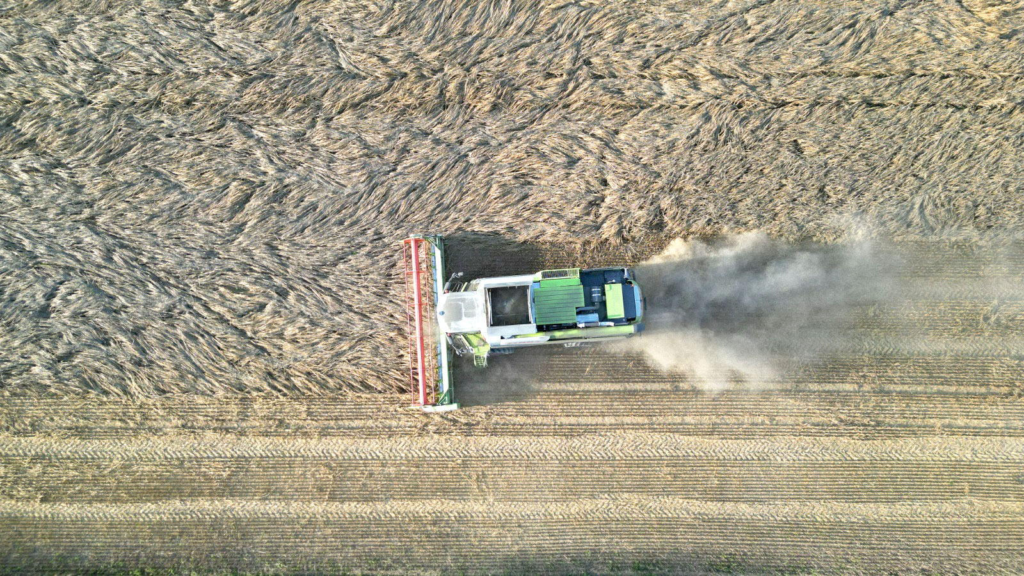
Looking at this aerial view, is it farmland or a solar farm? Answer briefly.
farmland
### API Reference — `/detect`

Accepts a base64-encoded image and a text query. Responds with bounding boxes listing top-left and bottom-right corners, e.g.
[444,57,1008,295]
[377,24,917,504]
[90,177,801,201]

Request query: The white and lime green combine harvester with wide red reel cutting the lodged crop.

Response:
[400,233,646,409]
